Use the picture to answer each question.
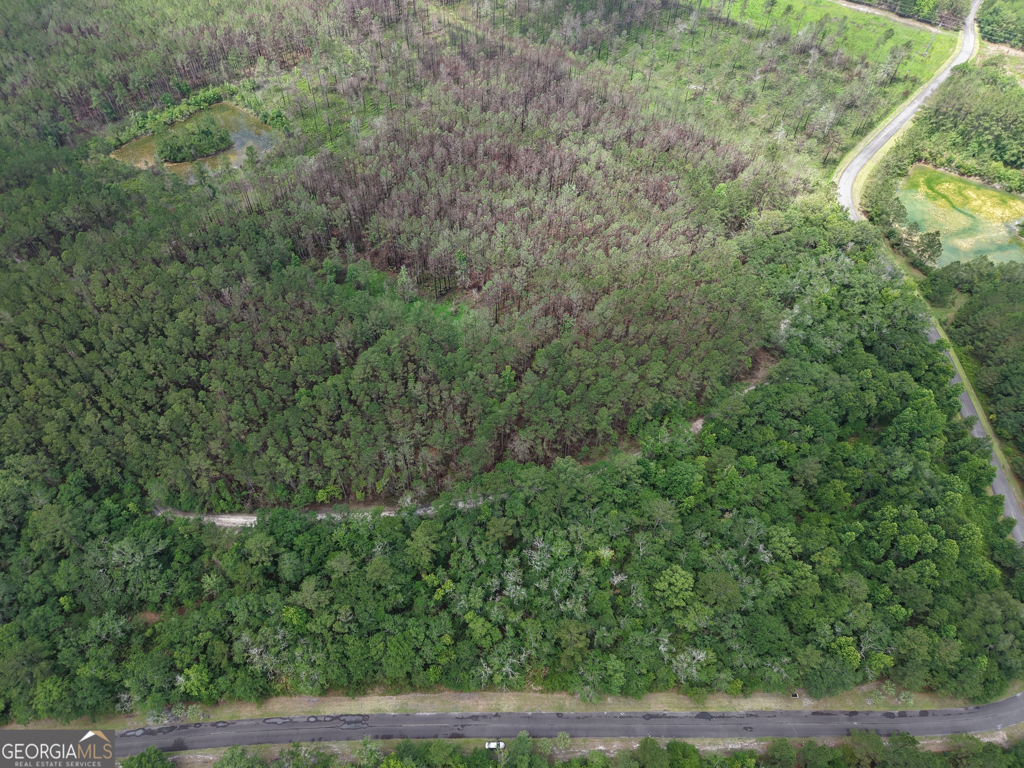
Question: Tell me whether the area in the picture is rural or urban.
rural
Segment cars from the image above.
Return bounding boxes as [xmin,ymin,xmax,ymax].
[485,736,506,750]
